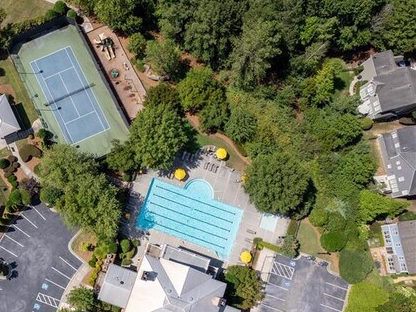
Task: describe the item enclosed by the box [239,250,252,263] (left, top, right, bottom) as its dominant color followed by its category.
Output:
yellow umbrella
